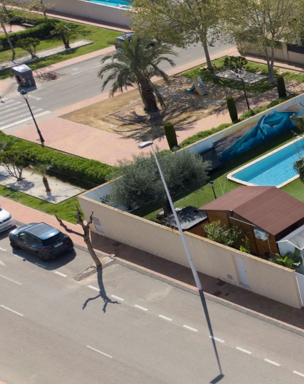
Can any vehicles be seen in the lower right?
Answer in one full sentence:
No, no vehicle can be made out in the lower right.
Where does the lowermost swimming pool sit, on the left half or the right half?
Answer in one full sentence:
The lowermost swimming pool sits on the right side.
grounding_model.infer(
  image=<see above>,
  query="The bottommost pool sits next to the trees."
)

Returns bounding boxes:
[229,131,303,188]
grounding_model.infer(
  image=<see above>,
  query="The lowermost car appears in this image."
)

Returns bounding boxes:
[1,215,76,261]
